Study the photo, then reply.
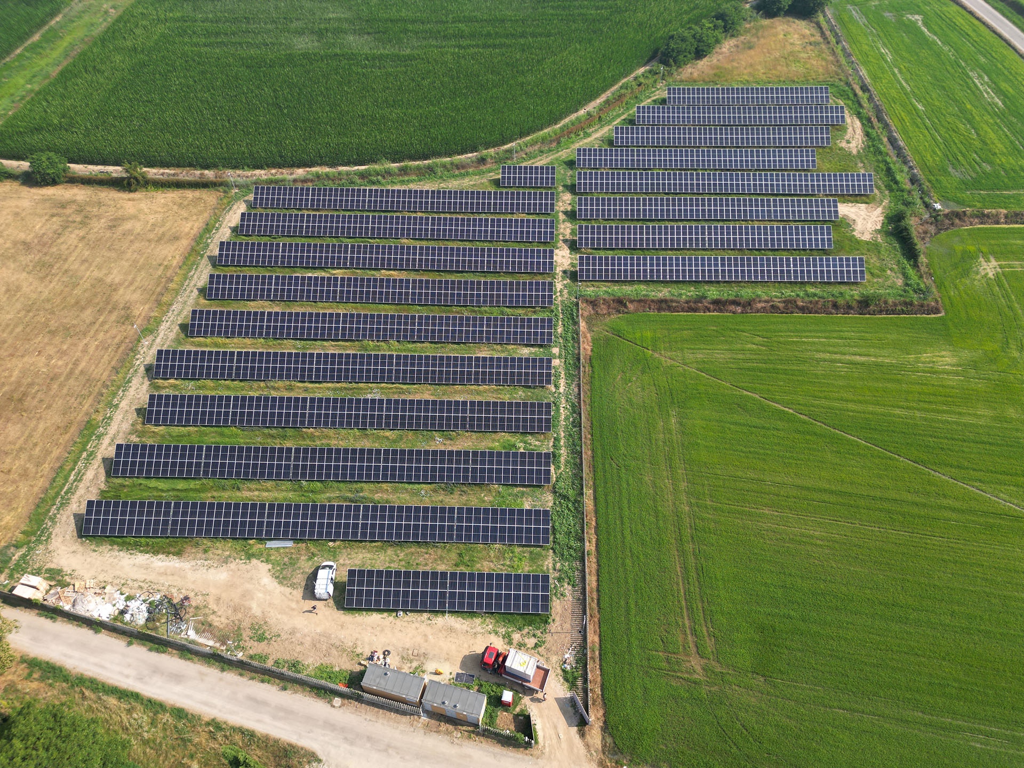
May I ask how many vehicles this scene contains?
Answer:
2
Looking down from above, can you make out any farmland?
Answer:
Yes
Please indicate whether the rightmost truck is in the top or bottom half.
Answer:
bottom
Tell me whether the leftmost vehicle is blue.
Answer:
No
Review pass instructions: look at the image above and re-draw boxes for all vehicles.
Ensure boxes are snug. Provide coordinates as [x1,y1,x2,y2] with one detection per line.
[474,639,550,691]
[314,560,336,598]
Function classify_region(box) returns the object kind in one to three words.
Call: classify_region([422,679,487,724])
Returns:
building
